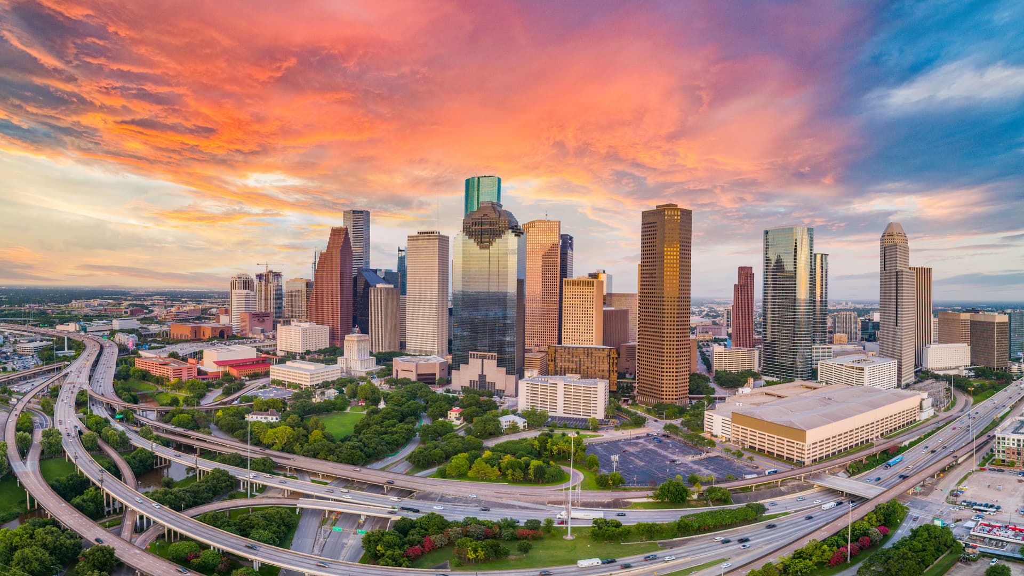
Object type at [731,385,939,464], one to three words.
building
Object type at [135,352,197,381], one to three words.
building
